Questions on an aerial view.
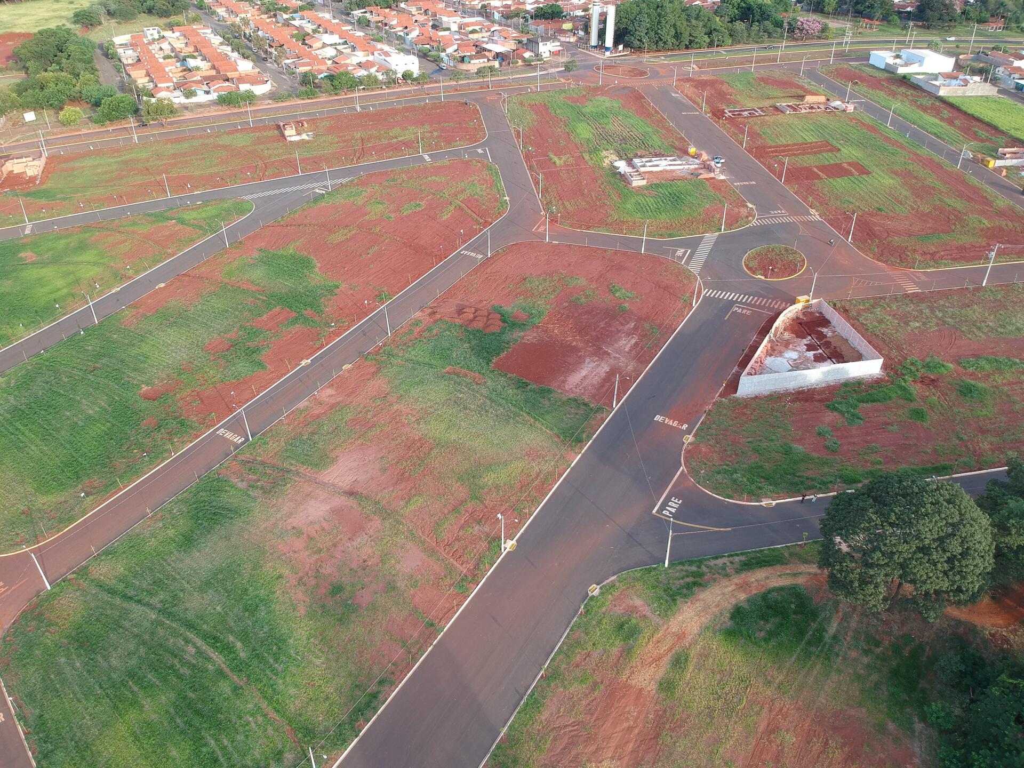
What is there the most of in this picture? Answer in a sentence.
The bulk of the photo consists of paved ground.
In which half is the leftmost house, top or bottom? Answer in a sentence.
The top half of the photo is where the leftmost house is.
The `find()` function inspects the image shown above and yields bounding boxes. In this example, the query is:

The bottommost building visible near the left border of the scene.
[1,157,44,185]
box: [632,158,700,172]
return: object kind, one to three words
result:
house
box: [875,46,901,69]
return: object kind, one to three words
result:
building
